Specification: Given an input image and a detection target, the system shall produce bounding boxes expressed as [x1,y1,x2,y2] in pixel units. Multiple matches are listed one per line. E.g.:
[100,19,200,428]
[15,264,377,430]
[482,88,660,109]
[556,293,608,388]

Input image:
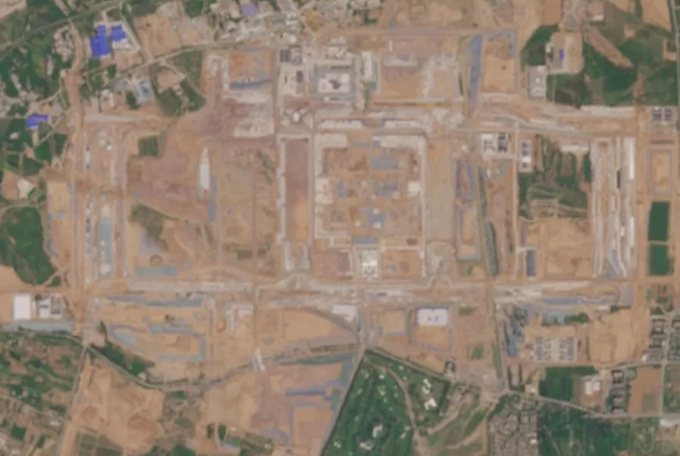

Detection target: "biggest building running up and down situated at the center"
[373,135,427,274]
